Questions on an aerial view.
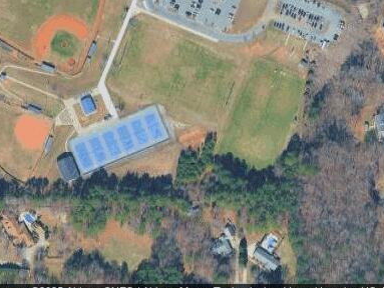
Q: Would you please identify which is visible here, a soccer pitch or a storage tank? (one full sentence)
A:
The image shows a soccer pitch.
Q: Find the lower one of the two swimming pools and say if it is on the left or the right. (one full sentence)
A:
It is on the right.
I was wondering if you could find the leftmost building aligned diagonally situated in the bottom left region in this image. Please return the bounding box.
[0,213,33,249]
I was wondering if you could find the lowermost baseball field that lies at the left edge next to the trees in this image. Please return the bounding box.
[0,99,55,183]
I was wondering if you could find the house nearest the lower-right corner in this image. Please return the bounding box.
[253,247,282,272]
